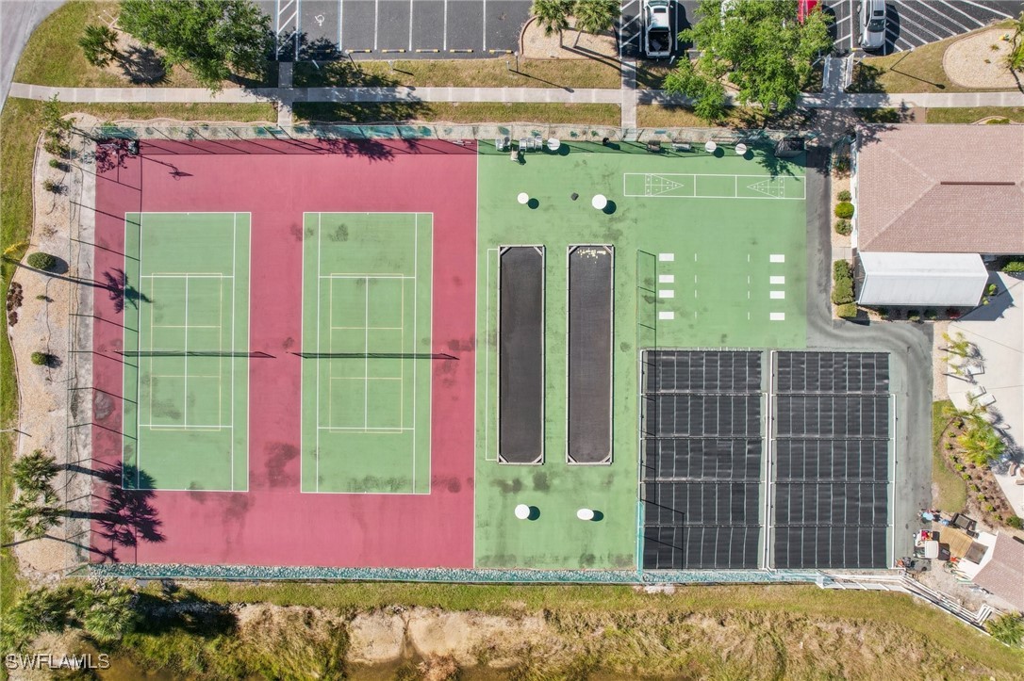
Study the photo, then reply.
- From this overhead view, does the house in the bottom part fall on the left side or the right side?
right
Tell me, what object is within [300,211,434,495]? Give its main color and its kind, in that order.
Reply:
green tennis court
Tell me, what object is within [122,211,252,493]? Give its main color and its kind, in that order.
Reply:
green tennis court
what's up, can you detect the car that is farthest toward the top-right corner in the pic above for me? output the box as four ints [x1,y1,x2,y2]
[859,0,889,51]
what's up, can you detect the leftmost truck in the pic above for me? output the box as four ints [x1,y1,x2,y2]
[642,0,672,59]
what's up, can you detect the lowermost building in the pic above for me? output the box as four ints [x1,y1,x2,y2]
[973,531,1024,605]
